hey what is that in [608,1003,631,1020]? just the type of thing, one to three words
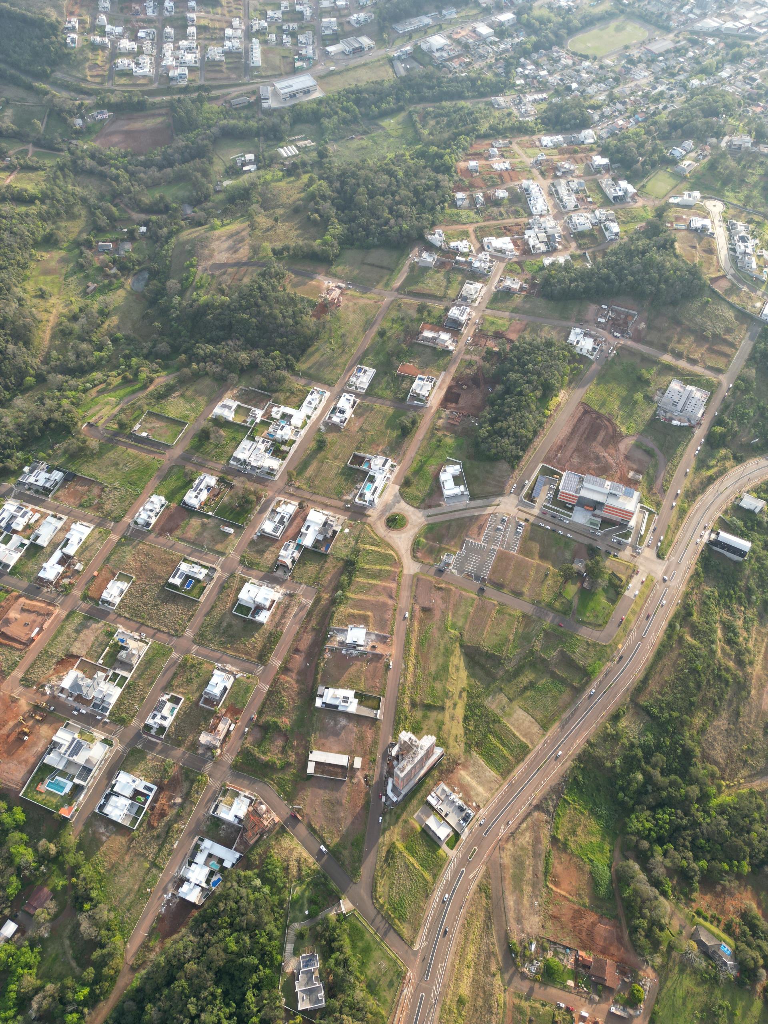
vehicle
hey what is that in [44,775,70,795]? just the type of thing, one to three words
swimming pool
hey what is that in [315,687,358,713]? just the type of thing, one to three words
house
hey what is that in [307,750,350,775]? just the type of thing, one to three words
shed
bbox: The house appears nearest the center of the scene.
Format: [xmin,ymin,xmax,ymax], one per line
[364,455,394,506]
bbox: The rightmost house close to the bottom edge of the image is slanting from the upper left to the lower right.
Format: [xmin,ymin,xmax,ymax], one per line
[688,924,740,973]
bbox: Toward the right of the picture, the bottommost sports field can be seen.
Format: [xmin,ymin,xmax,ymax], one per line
[639,169,683,198]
